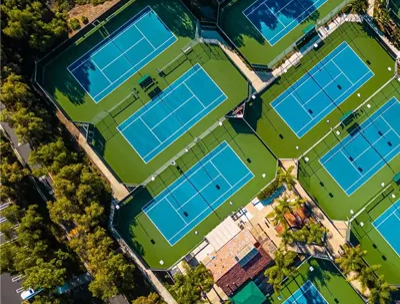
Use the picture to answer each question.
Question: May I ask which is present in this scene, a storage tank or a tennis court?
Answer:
tennis court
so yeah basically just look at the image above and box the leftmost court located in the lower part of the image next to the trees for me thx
[116,116,277,270]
